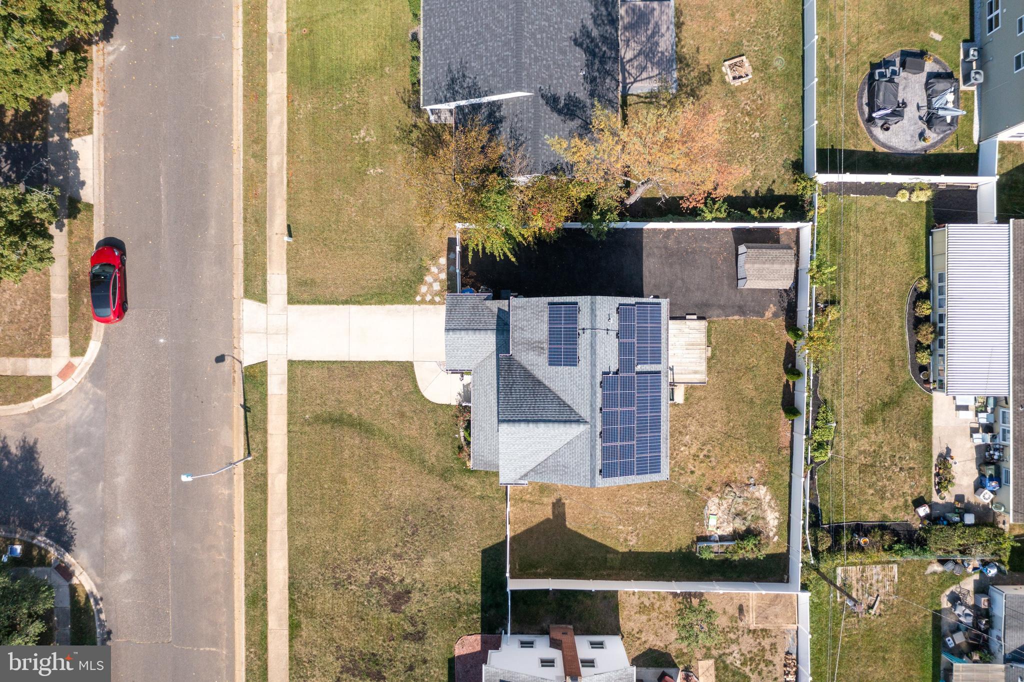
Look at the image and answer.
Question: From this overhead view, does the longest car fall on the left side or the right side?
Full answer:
The longest car is on the left side of the image.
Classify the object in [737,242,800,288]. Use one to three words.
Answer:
shed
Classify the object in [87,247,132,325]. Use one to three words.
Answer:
car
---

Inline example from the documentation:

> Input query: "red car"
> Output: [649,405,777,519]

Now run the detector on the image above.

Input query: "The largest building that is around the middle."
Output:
[444,292,671,488]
